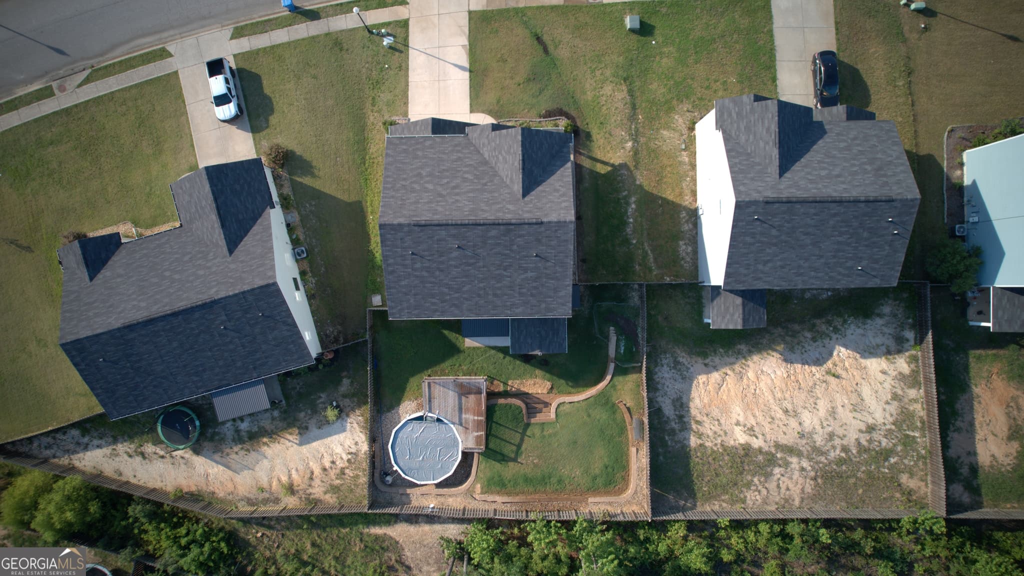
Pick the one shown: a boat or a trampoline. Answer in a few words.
trampoline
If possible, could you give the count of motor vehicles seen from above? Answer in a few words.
two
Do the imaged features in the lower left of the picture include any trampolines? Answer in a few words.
Yes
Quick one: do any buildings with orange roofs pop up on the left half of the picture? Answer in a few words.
No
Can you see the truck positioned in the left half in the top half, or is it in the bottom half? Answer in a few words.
top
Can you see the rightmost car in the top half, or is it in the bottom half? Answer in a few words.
top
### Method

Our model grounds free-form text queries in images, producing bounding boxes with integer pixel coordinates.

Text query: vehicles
[205,57,244,127]
[810,48,843,110]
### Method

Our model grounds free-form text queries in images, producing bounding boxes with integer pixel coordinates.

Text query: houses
[379,118,578,356]
[55,159,322,420]
[697,93,920,329]
[964,132,1024,332]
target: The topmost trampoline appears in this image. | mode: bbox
[144,402,205,456]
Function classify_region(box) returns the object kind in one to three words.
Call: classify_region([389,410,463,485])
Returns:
swimming pool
